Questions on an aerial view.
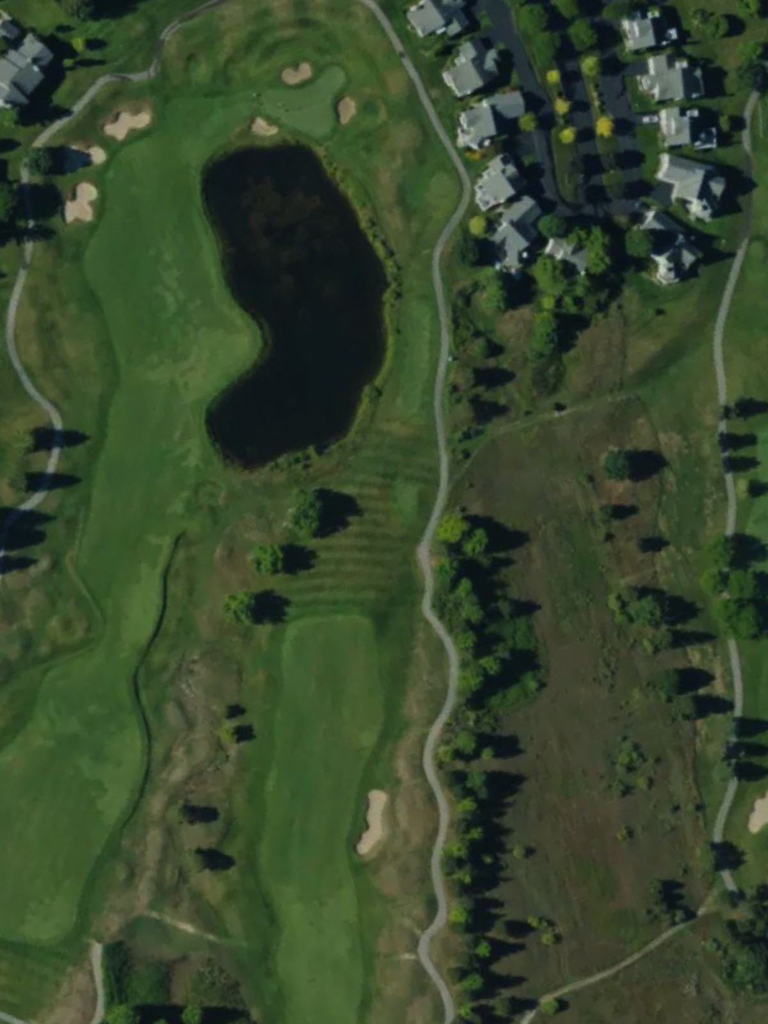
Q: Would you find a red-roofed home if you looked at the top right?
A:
No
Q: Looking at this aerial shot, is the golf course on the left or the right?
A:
left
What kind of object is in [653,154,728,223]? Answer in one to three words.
house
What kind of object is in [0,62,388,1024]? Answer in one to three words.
golf course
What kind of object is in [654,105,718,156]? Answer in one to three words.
house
